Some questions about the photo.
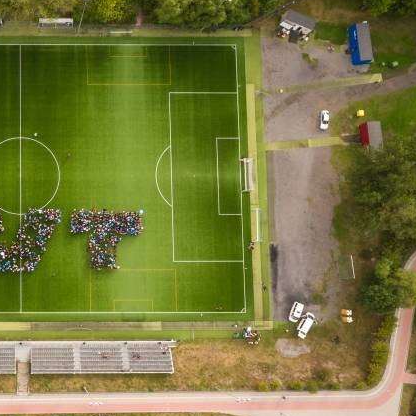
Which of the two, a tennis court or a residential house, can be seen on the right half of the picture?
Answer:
residential house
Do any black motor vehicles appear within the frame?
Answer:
No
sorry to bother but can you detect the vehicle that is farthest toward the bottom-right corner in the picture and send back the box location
[298,314,319,340]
